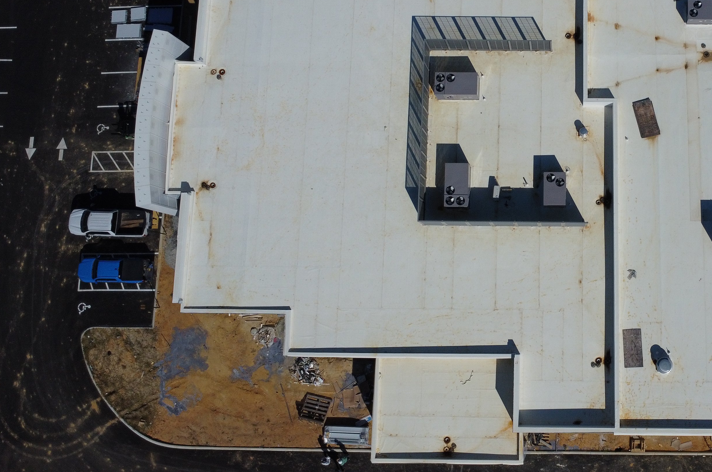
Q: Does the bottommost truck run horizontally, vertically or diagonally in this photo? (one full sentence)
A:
In this picture, the bottommost truck lies horizontally.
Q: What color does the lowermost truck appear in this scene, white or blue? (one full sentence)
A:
The lowermost truck looks blue in the image.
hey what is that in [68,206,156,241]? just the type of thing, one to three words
truck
